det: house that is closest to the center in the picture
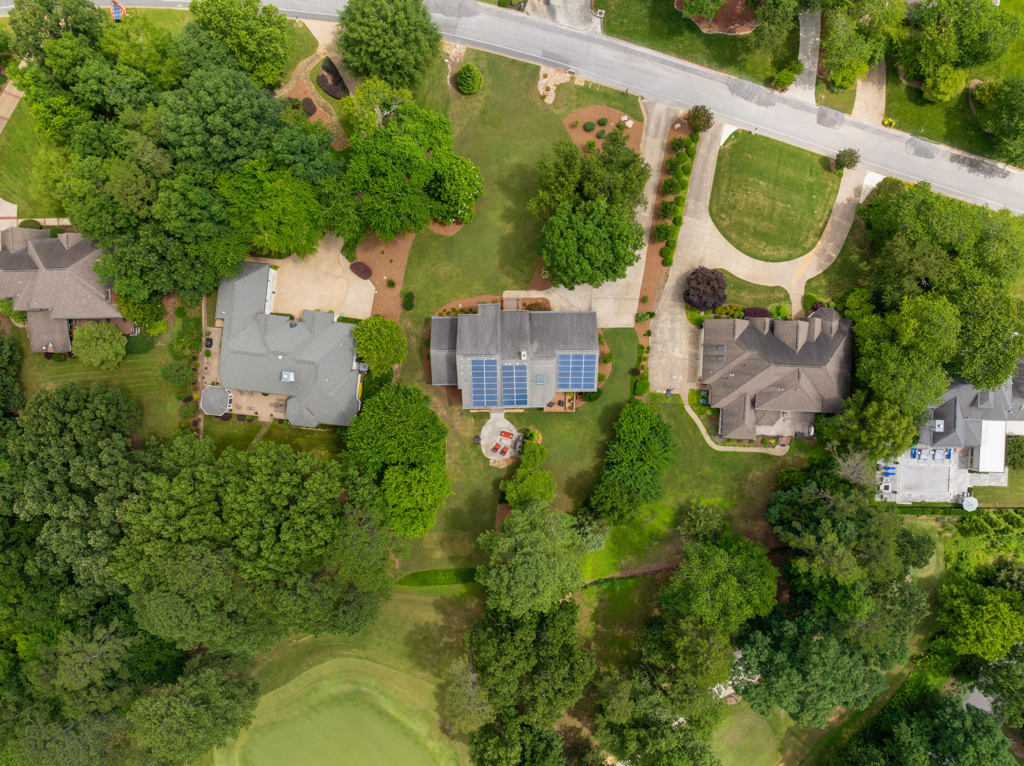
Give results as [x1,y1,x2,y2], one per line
[430,303,599,410]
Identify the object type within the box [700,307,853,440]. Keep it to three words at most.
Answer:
house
